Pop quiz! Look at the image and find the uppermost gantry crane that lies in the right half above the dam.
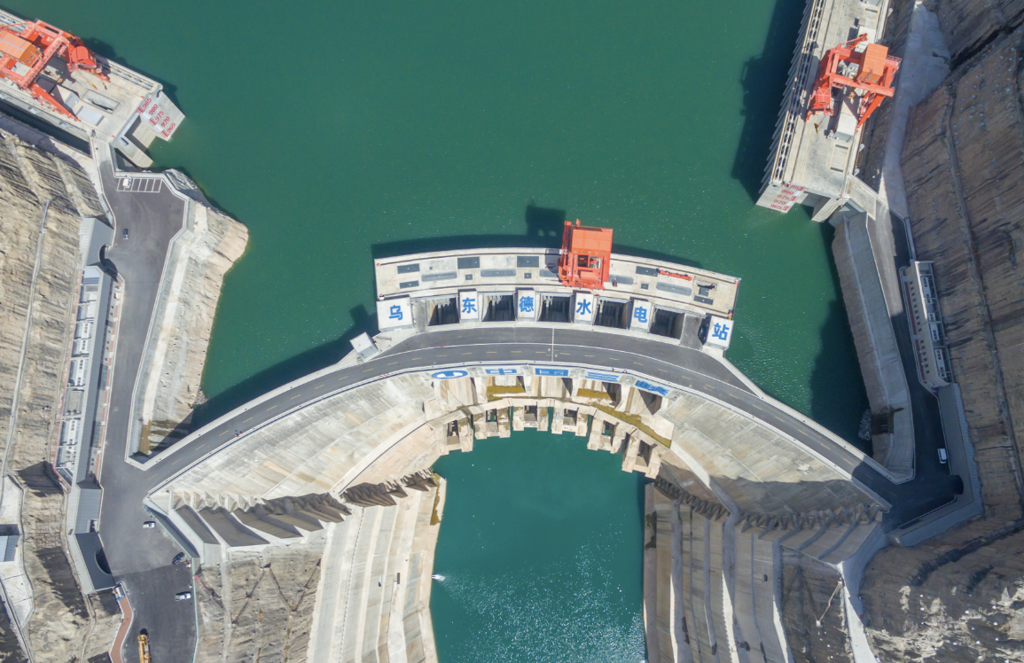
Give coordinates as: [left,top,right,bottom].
[806,27,902,131]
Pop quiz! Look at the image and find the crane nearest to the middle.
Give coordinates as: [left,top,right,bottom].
[552,223,615,290]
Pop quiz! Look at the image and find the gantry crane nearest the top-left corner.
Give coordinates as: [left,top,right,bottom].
[0,15,112,119]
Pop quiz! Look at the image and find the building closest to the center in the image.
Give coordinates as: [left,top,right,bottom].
[349,331,376,359]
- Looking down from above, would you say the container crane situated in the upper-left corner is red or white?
red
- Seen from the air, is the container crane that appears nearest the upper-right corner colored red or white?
red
